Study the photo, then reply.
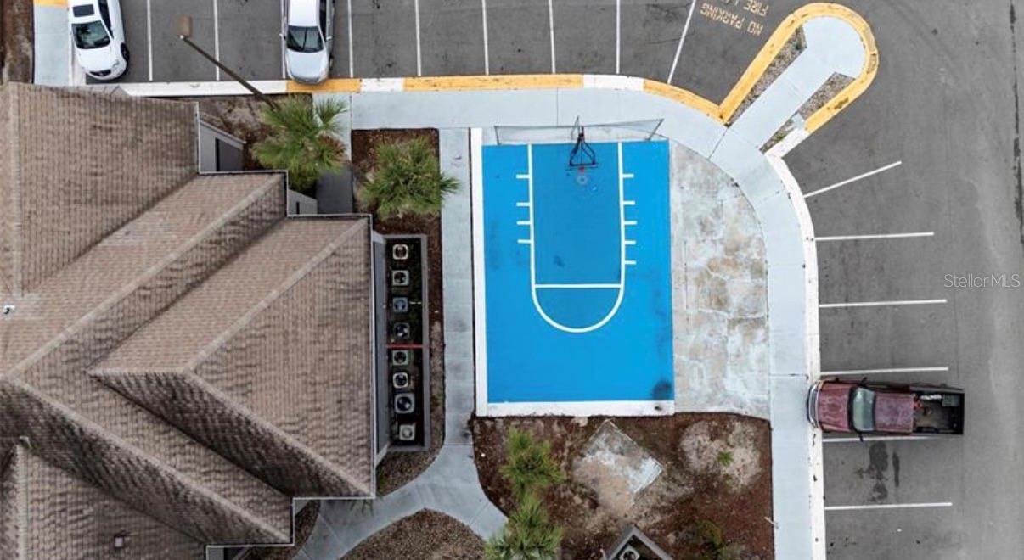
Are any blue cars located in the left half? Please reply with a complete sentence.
No, no blue car is visible in the left half.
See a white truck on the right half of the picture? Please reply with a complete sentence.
No, there's no white truck to be seen on the right half of the picture.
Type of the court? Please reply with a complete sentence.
What you see as the court is a basketball court.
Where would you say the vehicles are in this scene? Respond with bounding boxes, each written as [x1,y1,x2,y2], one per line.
[806,379,963,442]
[64,0,130,81]
[277,0,334,84]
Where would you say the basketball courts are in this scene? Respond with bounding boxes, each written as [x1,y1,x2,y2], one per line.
[471,128,674,416]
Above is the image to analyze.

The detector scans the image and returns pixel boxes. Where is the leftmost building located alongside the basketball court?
[0,77,388,560]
